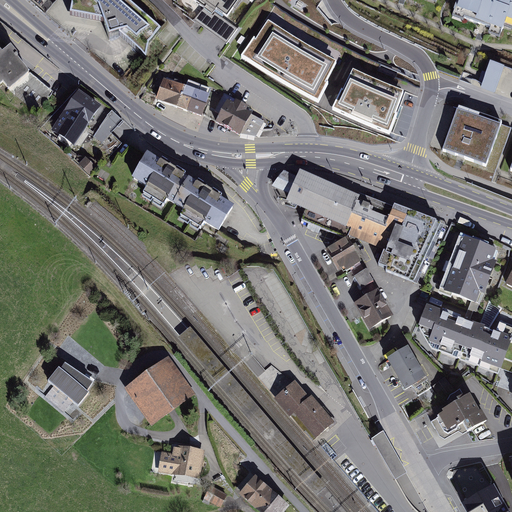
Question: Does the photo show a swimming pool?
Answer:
No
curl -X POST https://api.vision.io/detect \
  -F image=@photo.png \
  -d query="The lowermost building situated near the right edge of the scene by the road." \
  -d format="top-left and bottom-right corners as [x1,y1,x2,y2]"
[446,458,510,512]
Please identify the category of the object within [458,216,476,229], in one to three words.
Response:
vehicle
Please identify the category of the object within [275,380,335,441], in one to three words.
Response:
train station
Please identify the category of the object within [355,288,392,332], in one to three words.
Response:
house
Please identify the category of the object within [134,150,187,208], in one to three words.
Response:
building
